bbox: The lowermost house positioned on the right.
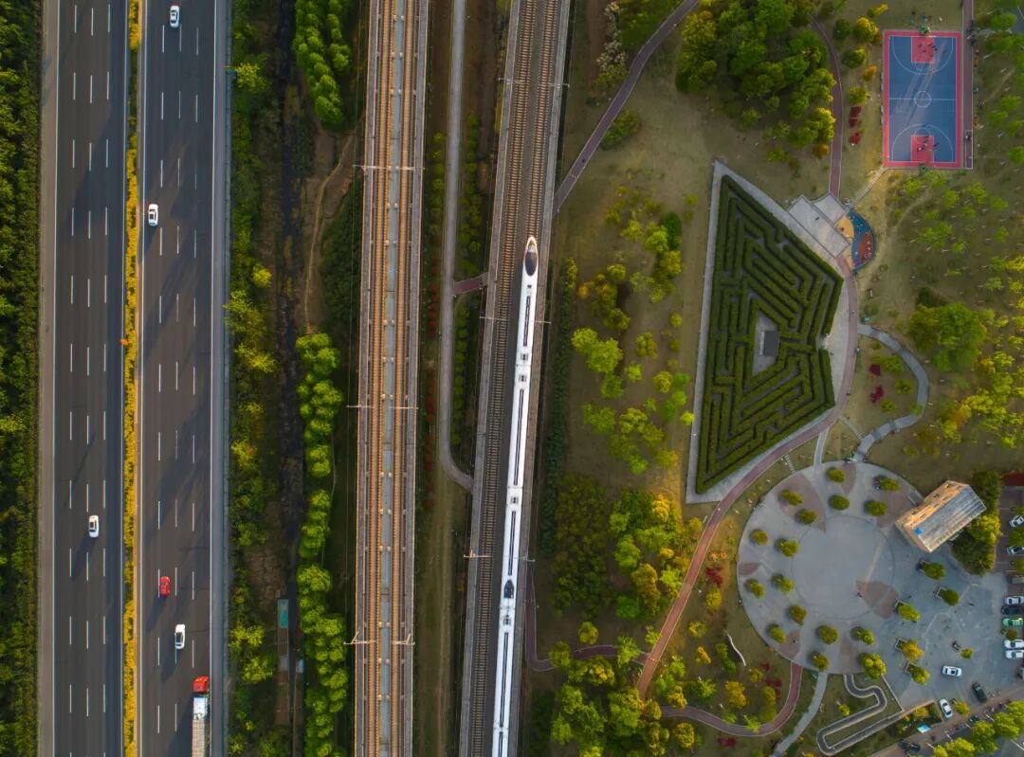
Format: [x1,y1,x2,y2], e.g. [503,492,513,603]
[896,481,990,555]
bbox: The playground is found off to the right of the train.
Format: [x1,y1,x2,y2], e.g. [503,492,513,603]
[835,210,878,272]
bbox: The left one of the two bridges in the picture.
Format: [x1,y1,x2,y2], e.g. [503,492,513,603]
[353,0,429,757]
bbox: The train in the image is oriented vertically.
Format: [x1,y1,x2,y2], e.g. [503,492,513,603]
[492,236,537,757]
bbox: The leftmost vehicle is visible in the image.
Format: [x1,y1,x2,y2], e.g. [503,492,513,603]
[88,515,100,537]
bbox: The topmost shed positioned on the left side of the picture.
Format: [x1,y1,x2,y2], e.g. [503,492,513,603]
[278,597,290,628]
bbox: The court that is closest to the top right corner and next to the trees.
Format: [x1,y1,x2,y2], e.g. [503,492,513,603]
[883,29,962,169]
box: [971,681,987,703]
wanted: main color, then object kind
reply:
black car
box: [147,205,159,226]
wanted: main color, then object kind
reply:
white vehicle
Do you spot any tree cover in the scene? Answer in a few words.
Yes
